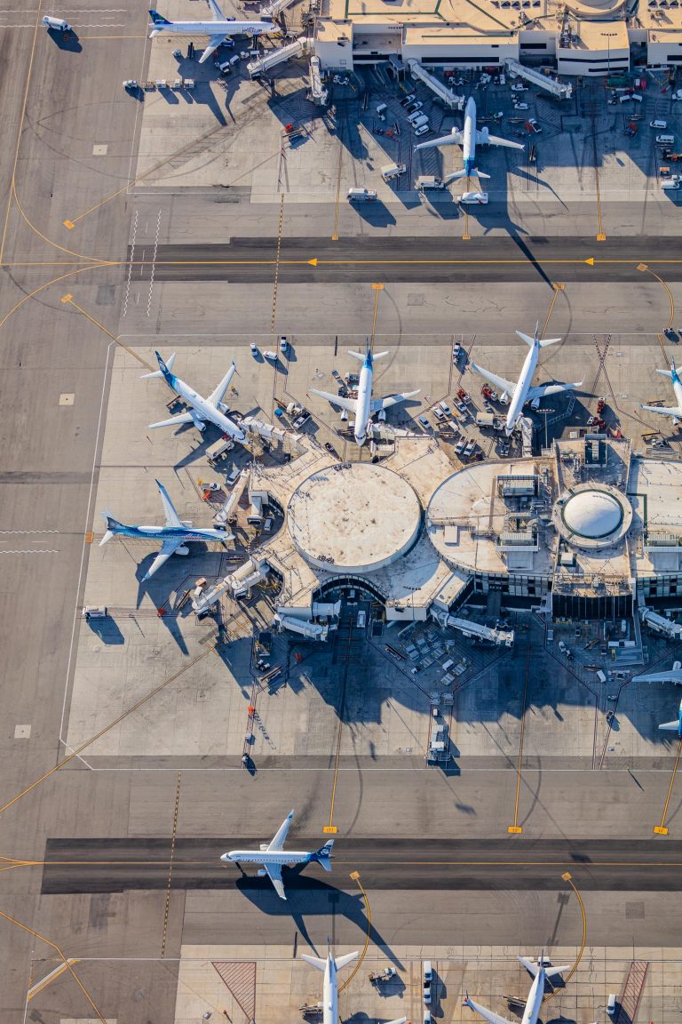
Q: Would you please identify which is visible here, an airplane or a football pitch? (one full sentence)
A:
This aerial view contains an airplane.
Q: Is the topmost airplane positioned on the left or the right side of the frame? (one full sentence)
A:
The topmost airplane is on the left side of the image.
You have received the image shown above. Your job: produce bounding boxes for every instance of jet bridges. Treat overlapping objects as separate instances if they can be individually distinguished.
[241,37,315,85]
[224,563,275,606]
[184,551,258,623]
[309,54,333,114]
[248,491,266,535]
[514,412,536,459]
[204,462,253,530]
[412,58,469,113]
[272,608,338,647]
[632,604,682,647]
[360,421,437,443]
[309,600,354,623]
[425,605,520,649]
[503,57,579,101]
[240,410,308,452]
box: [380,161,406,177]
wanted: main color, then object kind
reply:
white vehicle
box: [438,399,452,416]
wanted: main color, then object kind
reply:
white vehicle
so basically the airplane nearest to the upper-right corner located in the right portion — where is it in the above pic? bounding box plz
[415,99,524,173]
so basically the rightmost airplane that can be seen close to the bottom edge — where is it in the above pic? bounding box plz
[471,938,601,1024]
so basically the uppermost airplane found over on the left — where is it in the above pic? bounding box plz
[147,0,280,64]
